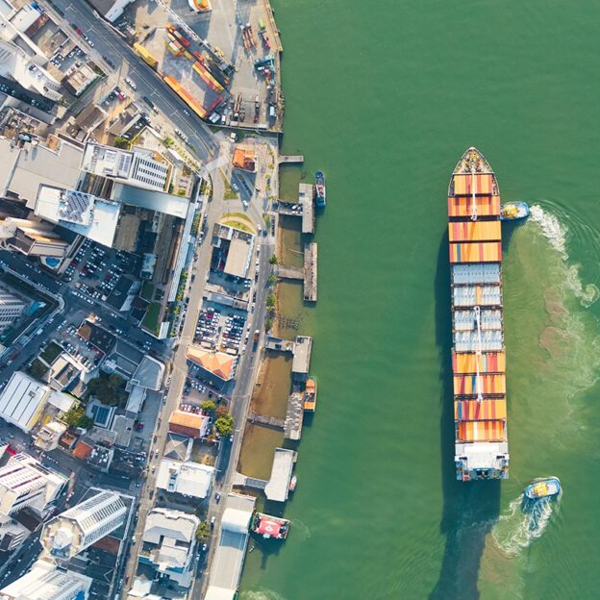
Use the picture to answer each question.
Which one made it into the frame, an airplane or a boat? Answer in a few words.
boat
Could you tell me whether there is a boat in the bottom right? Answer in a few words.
Yes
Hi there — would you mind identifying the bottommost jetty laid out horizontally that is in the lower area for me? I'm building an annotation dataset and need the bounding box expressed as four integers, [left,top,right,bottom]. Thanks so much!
[249,414,285,428]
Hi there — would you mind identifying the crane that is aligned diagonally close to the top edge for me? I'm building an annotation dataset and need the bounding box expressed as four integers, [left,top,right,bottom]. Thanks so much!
[159,0,242,83]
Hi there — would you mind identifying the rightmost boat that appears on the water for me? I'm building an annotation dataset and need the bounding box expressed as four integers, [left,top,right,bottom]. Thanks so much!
[524,477,563,500]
